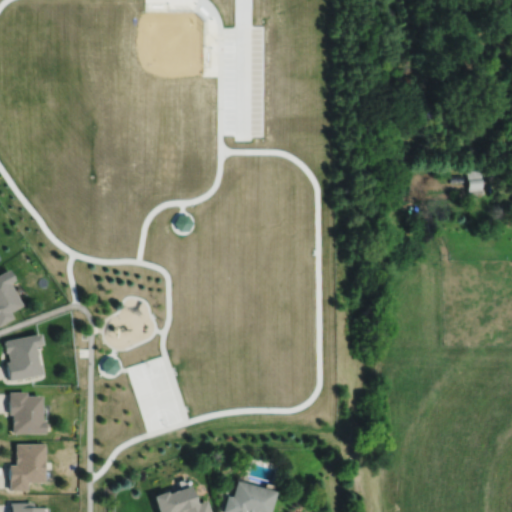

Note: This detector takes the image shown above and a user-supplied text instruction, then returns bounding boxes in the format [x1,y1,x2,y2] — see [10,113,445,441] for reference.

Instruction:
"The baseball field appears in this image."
[138,0,218,78]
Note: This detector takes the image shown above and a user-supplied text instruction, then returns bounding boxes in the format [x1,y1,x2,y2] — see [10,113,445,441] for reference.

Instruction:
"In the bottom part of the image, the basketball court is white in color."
[128,354,190,434]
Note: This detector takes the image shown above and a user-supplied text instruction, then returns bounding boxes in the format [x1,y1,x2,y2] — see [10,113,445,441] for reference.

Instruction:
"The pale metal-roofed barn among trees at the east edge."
[469,173,486,196]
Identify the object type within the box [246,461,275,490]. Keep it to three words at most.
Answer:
swimming pool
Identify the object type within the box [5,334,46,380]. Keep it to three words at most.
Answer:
house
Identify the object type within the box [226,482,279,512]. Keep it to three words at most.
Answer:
house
